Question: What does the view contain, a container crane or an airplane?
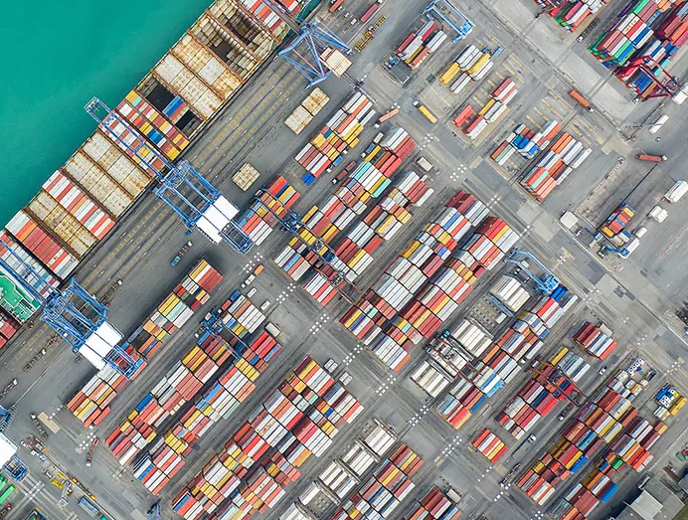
container crane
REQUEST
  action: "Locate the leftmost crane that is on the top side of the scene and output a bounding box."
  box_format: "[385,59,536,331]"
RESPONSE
[83,95,255,256]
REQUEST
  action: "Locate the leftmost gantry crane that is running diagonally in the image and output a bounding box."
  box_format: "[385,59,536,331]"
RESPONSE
[0,235,141,380]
